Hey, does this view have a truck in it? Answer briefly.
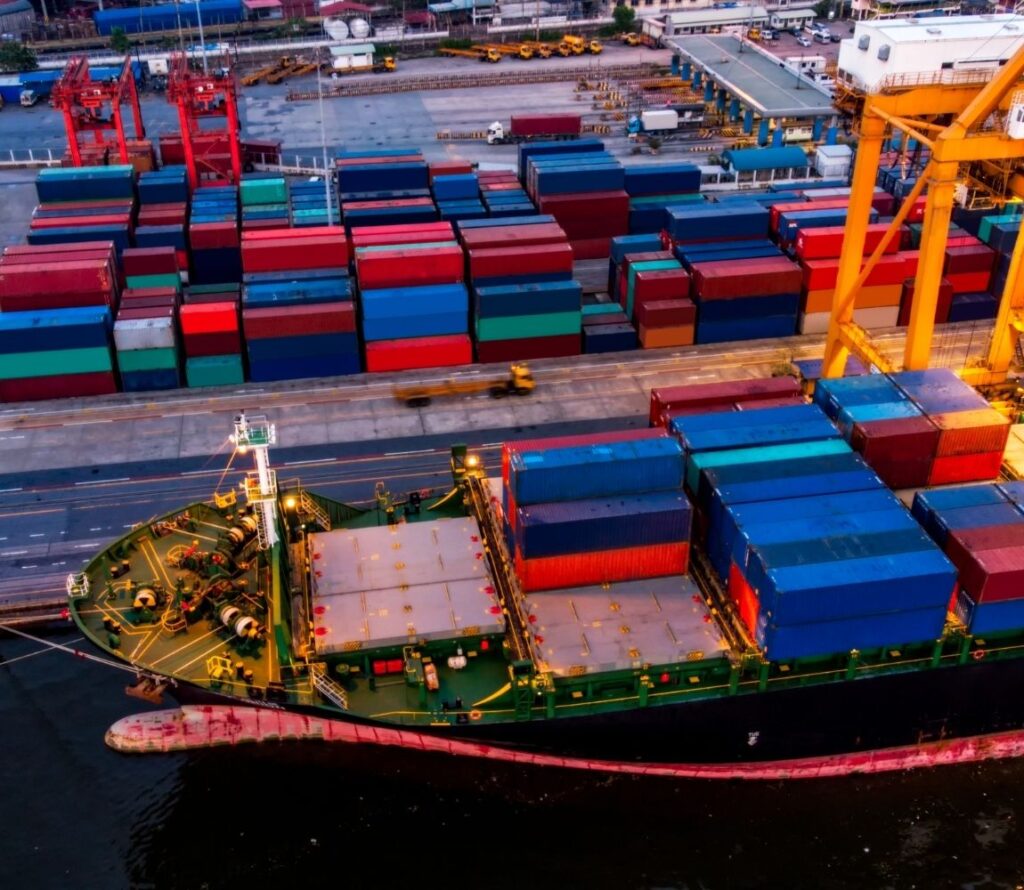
Yes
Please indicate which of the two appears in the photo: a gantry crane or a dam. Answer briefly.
gantry crane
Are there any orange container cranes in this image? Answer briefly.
Yes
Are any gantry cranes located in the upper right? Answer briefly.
Yes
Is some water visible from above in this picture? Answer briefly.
Yes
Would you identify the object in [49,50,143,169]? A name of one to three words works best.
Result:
container crane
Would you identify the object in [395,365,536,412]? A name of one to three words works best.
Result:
truck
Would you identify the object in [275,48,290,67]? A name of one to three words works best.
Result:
vehicle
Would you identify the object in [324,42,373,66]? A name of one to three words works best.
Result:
shed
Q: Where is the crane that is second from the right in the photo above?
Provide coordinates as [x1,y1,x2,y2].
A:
[160,49,240,192]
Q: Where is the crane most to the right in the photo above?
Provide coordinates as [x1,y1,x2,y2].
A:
[804,0,1024,409]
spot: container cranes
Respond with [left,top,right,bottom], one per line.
[160,49,240,192]
[49,50,143,169]
[804,0,1024,409]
